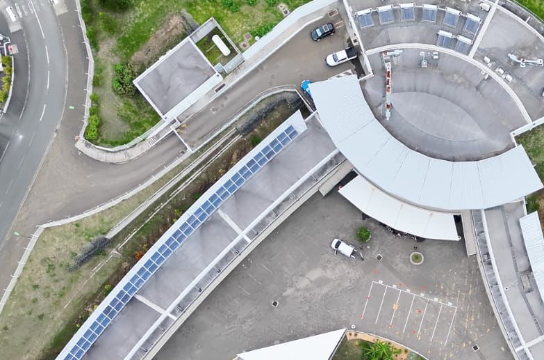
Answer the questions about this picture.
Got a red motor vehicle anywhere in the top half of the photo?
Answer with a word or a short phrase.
No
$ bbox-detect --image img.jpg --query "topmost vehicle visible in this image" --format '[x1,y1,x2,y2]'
[311,22,337,44]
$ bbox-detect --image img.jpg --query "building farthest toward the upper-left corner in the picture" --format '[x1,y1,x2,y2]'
[135,37,224,123]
